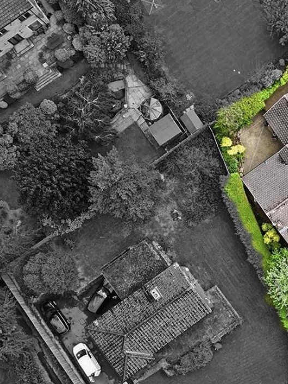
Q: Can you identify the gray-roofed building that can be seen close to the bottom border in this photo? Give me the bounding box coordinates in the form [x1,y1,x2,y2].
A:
[85,240,211,382]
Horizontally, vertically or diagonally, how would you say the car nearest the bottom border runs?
diagonally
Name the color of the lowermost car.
white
